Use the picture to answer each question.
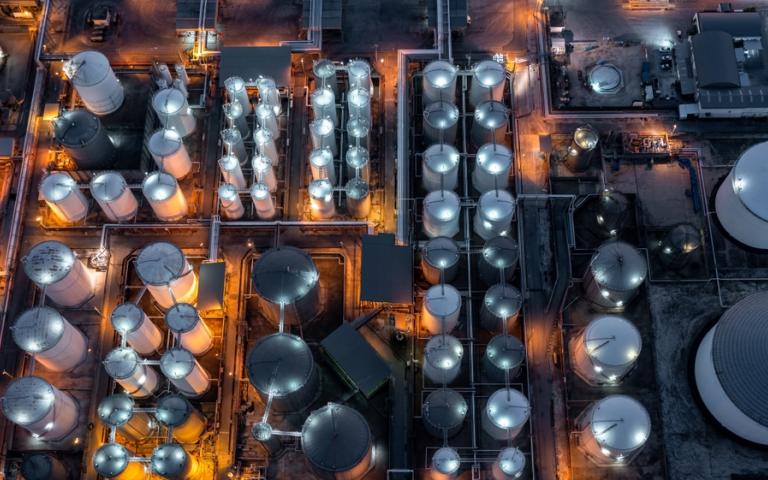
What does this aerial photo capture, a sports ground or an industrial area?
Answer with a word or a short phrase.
industrial area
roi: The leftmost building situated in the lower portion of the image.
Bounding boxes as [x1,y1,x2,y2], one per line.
[197,262,228,315]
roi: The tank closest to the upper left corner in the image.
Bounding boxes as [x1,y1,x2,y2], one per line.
[69,50,129,113]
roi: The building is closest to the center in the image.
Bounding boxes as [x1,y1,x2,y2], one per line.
[362,234,412,311]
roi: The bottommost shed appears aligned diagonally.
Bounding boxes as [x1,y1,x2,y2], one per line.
[320,322,390,404]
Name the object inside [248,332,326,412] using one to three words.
storage tank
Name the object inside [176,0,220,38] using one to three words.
building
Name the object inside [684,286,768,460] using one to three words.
storage tank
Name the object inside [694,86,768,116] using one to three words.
building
